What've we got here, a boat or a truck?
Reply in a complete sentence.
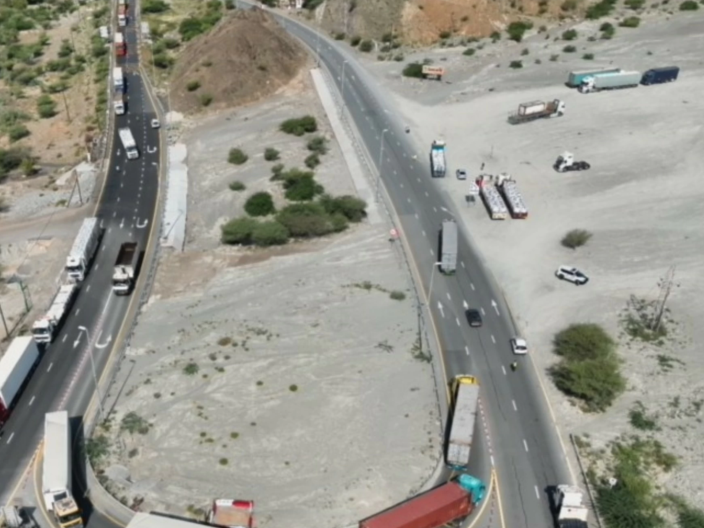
There is a truck in the scene.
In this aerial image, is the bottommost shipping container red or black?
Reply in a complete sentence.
The bottommost shipping container looks red in the image.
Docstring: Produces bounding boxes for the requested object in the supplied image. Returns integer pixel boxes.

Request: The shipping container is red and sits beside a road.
[361,481,469,528]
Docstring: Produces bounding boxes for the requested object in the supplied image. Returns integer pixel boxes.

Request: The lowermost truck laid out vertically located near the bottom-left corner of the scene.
[42,411,84,528]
